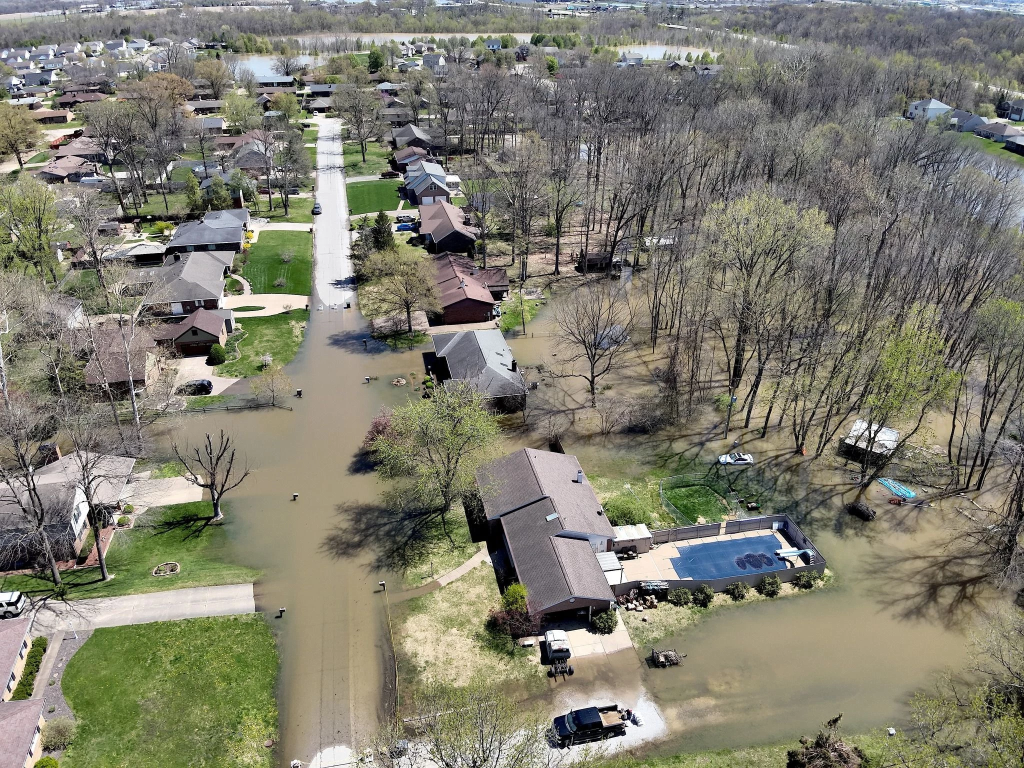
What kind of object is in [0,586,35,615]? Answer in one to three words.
car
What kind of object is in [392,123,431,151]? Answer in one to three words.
house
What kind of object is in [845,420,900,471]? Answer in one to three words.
shed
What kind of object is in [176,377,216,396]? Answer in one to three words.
car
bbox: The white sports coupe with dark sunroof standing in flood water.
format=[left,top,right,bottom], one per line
[717,450,756,466]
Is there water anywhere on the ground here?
Yes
